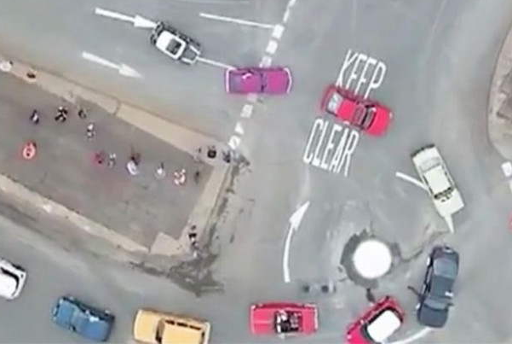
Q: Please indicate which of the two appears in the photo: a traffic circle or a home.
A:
traffic circle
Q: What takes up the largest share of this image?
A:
paved ground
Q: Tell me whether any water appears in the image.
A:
No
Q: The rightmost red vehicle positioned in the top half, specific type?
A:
car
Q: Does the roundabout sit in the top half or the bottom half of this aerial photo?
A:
bottom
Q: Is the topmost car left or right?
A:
left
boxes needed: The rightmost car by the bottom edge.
[415,245,461,328]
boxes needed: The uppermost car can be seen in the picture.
[148,19,201,65]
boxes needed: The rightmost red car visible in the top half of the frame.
[322,84,392,135]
